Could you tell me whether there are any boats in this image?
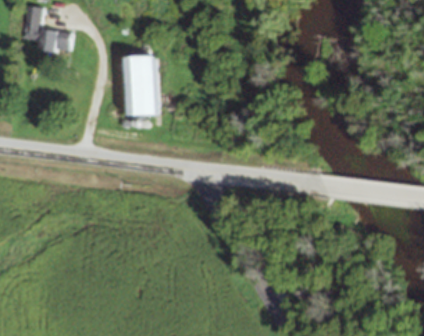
No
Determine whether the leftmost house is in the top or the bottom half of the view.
top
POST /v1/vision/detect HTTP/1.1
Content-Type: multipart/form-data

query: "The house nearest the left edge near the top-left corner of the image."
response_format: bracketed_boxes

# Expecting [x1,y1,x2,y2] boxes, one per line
[22,5,48,40]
